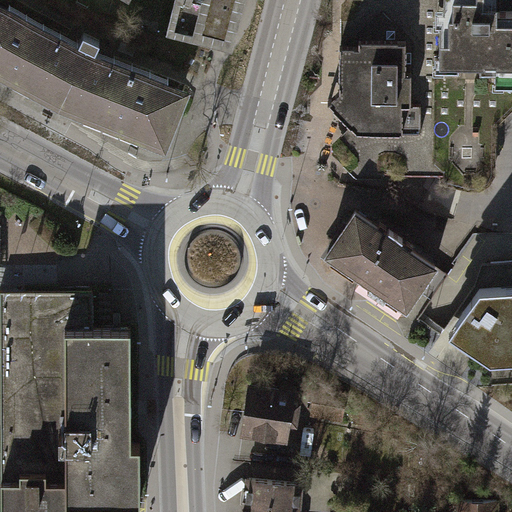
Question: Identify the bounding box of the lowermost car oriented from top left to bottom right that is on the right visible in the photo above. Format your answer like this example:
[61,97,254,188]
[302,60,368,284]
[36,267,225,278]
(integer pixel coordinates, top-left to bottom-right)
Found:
[304,289,329,310]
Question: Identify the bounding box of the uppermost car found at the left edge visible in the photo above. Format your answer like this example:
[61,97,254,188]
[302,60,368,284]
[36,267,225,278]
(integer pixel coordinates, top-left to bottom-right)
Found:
[22,172,47,190]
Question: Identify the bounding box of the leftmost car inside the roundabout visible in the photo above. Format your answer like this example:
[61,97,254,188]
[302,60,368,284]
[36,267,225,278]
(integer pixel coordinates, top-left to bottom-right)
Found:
[161,288,182,309]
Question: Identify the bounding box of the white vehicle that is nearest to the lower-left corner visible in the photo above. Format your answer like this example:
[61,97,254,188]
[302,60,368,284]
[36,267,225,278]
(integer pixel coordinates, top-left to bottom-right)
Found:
[216,476,246,503]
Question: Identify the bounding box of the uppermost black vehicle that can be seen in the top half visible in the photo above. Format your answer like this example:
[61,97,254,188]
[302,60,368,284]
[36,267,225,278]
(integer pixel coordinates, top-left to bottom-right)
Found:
[276,102,289,130]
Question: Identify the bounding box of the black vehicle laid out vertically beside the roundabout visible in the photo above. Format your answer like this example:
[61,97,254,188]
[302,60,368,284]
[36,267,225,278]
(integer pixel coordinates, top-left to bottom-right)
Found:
[196,341,210,368]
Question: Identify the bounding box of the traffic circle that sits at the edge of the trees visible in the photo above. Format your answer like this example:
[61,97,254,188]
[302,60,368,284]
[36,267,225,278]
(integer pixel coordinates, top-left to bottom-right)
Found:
[138,188,286,336]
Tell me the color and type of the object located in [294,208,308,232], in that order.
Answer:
white vehicle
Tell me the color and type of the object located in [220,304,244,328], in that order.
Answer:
black car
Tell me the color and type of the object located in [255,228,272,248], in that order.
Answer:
white car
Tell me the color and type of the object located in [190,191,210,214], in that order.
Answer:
black car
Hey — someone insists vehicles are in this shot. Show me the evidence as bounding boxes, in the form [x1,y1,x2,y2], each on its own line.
[228,410,242,436]
[254,304,273,314]
[161,288,182,309]
[216,476,246,503]
[190,191,210,214]
[100,214,129,237]
[196,341,210,368]
[276,102,289,130]
[294,208,308,232]
[22,172,47,190]
[300,424,315,458]
[304,289,329,310]
[220,304,244,328]
[255,228,272,248]
[190,416,202,443]
[316,149,329,172]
